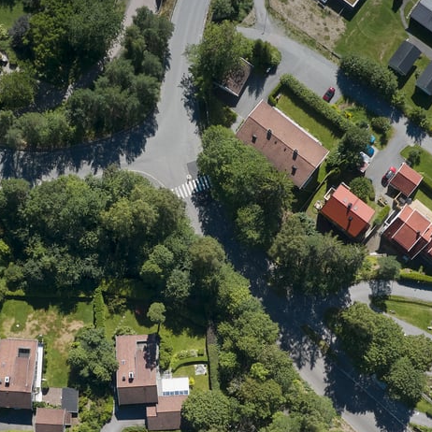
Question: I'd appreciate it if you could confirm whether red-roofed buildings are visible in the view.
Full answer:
Yes, there is a red-roofed building in the image.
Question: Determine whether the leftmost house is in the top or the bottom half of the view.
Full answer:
The bottom half of the photo is where the leftmost house is.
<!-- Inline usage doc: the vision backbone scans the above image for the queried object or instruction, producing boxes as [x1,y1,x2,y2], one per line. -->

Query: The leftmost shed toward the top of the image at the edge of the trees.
[220,58,253,98]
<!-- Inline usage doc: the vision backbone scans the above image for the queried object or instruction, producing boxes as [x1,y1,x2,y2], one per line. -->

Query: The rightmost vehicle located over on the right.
[383,168,397,184]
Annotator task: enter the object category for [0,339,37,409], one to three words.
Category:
house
